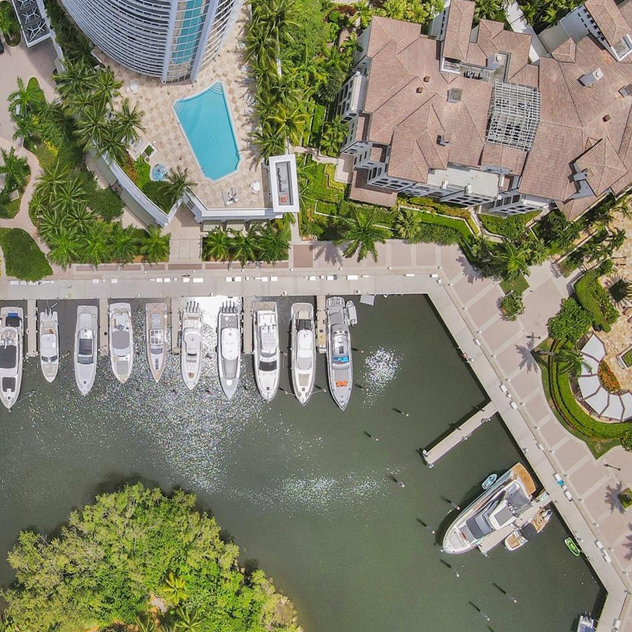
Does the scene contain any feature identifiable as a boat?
Yes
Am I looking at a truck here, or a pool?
pool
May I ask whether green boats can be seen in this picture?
Yes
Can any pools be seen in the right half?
No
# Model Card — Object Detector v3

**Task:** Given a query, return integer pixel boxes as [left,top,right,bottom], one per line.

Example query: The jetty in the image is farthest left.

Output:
[26,298,39,357]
